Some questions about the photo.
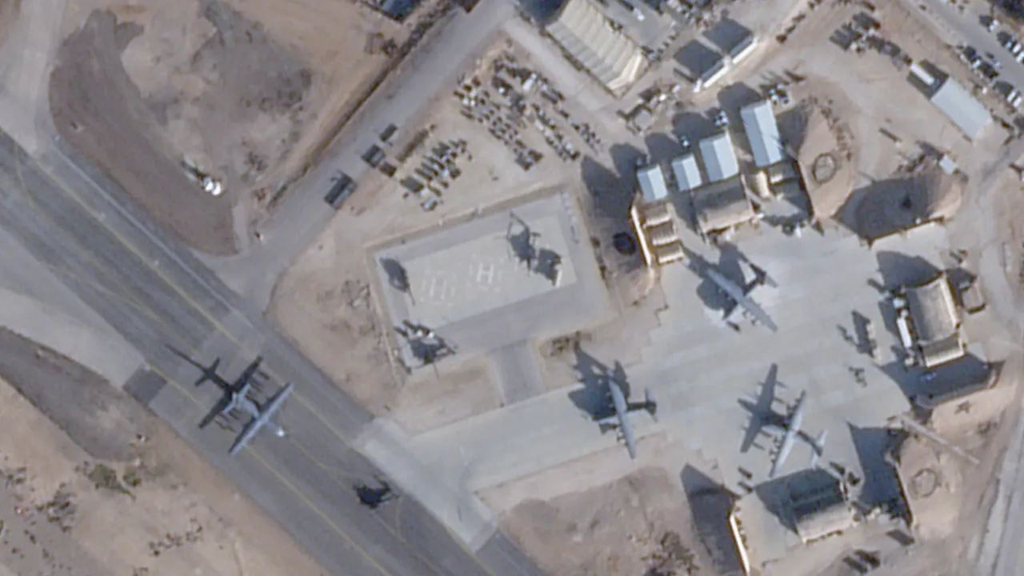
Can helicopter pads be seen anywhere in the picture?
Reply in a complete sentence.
Yes, a helicopter pad is visible in the scene.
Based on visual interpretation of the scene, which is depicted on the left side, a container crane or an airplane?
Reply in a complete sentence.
There is an airplane on the left side.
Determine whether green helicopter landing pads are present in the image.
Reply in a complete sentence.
No, I can't see a single green helicopter landing pad in this photo.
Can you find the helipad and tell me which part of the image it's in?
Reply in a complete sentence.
Look in the center portion of the view to spot the helipad.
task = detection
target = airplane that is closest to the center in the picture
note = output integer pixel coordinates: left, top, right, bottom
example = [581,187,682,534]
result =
[596,368,664,459]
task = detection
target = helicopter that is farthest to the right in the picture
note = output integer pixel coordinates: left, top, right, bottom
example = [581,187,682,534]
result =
[510,230,550,276]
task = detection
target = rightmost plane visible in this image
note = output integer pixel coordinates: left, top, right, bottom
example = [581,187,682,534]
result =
[763,389,831,477]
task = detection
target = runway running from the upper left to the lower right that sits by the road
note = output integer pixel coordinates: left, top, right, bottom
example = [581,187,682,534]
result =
[0,131,548,576]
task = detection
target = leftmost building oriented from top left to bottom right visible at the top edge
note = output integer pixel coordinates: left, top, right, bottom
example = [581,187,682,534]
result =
[544,0,643,96]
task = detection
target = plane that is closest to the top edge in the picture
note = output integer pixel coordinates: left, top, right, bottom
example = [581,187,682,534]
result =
[705,257,781,331]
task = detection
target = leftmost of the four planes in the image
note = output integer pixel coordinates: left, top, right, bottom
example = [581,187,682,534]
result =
[221,379,293,455]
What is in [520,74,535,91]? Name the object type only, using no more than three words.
vehicle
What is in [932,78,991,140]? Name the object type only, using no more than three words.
building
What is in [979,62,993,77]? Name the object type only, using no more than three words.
vehicle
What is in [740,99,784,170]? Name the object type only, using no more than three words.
shed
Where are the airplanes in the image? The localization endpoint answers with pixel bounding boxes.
[705,257,781,331]
[221,379,293,455]
[763,389,831,477]
[596,368,664,459]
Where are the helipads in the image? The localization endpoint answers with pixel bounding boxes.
[376,192,613,405]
